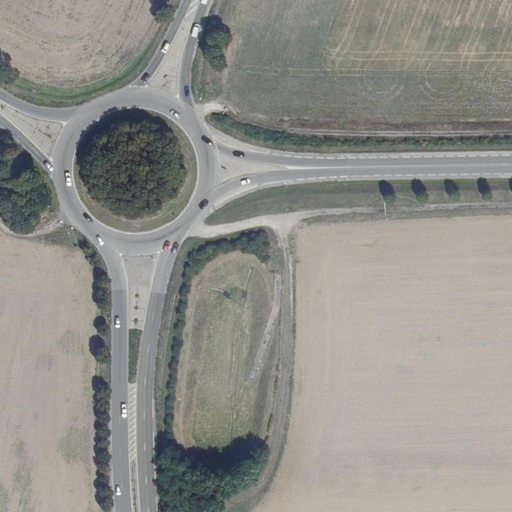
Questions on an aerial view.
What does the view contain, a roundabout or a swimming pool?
roundabout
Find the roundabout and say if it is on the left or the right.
left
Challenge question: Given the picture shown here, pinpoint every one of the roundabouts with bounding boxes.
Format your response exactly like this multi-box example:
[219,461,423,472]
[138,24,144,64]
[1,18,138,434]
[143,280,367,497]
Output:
[50,84,221,256]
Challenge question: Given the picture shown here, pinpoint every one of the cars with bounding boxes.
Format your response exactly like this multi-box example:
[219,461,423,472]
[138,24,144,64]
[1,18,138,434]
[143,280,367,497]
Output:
[184,86,189,96]
[232,151,244,156]
[116,486,121,496]
[114,317,120,327]
[240,178,250,184]
[96,236,104,246]
[169,108,180,118]
[172,242,178,254]
[66,173,72,186]
[45,161,54,171]
[142,72,149,82]
[199,198,208,209]
[122,404,127,416]
[163,240,169,251]
[83,212,94,222]
[200,135,212,144]
[162,41,170,52]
